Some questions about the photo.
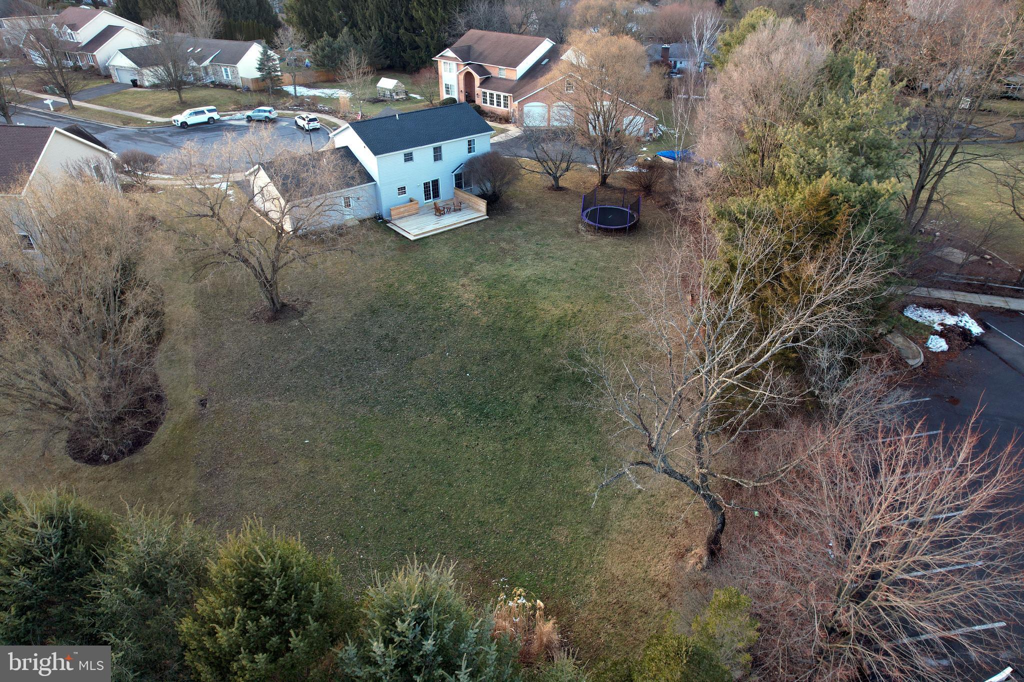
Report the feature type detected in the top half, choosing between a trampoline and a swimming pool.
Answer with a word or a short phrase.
trampoline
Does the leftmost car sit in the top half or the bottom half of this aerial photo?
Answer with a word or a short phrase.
top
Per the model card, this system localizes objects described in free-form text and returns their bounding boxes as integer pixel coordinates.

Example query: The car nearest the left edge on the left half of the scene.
[170,107,219,128]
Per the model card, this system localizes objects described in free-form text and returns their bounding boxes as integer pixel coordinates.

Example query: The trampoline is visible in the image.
[581,187,638,237]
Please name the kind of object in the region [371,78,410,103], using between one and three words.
greenhouse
